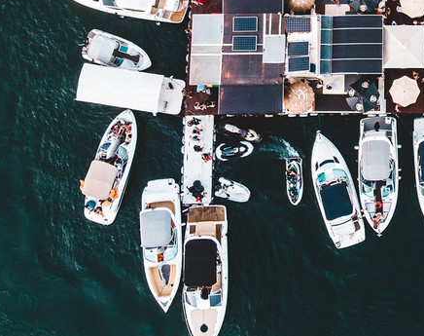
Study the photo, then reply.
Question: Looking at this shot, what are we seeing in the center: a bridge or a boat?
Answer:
boat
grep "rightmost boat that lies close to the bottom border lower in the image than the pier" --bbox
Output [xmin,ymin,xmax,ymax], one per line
[182,203,231,336]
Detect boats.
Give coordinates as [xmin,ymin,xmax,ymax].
[182,203,231,336]
[215,179,249,202]
[76,0,188,25]
[415,116,424,210]
[313,129,367,246]
[215,140,255,159]
[141,177,187,312]
[285,156,305,206]
[219,121,262,143]
[76,32,152,71]
[76,63,188,113]
[83,109,140,223]
[354,116,402,234]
